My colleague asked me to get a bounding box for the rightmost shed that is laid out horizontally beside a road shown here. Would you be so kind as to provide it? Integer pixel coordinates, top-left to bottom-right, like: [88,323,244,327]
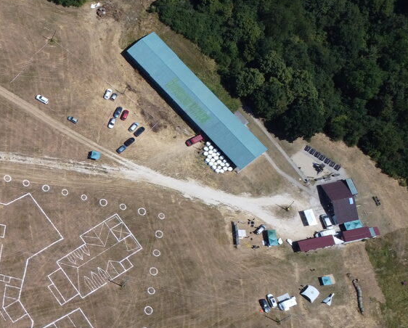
[339,226,381,243]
